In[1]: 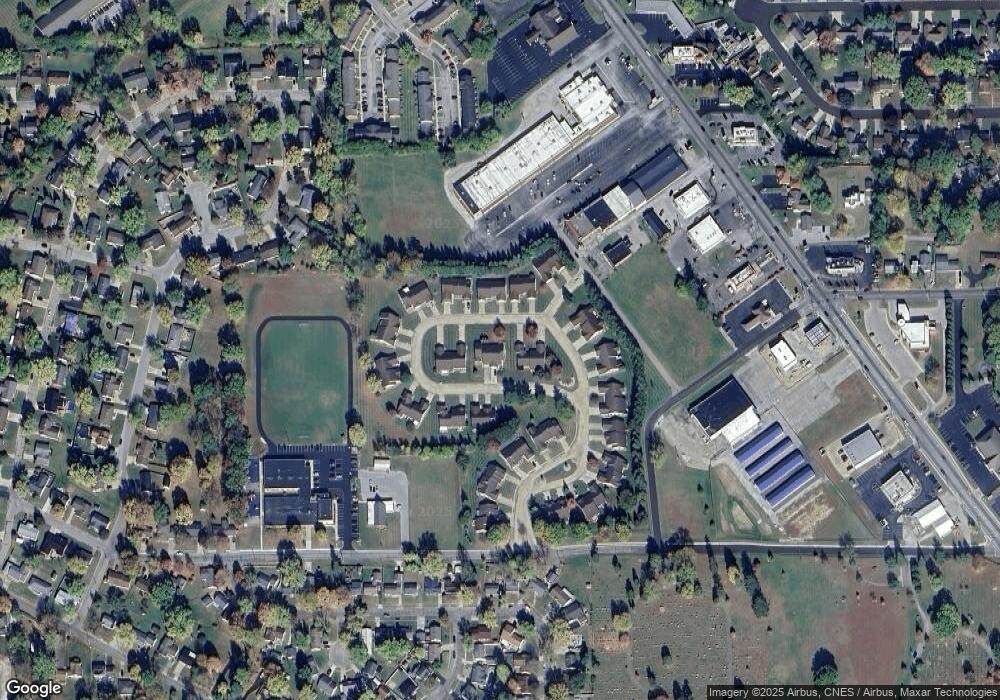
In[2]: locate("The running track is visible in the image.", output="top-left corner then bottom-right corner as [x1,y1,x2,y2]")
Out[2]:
[256,315,353,444]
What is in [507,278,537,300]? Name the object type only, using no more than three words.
house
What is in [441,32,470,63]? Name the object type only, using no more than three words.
building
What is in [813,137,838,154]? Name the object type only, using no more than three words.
house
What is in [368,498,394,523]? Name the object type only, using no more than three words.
building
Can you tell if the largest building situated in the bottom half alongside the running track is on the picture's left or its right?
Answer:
left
